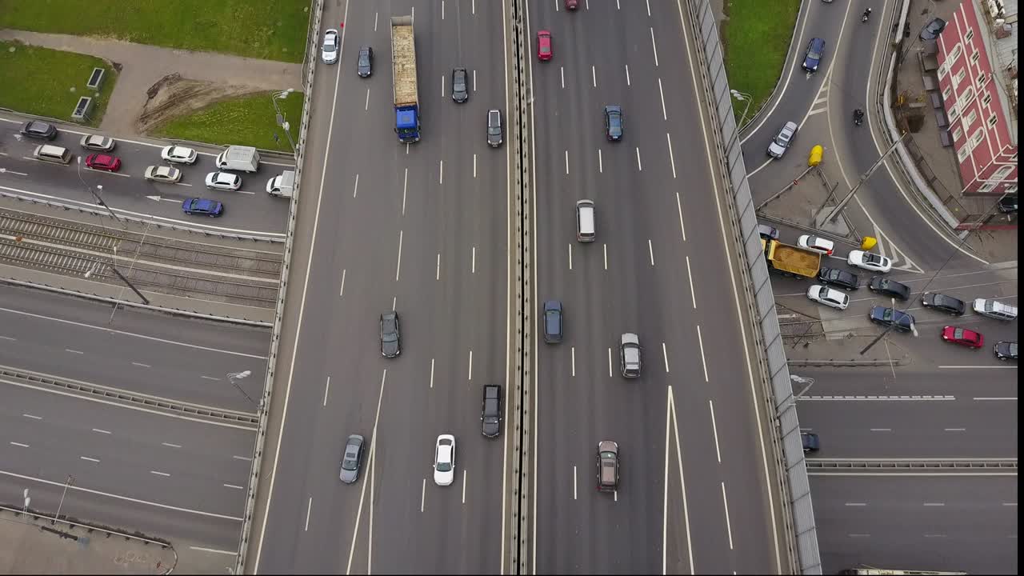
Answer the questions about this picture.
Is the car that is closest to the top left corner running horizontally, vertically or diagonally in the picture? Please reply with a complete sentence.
The car that is closest to the top left corner is oriented horizontally.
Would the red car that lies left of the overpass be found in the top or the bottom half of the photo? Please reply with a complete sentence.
The red car that lies left of the overpass is in the top half of the image.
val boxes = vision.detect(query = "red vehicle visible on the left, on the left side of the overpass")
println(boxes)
[83,152,124,173]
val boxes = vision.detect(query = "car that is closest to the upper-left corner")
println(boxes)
[19,119,59,140]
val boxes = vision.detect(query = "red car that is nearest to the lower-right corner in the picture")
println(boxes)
[940,324,986,348]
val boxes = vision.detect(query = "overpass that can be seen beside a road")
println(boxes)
[249,0,804,576]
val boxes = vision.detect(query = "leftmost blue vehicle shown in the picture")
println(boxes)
[181,196,225,218]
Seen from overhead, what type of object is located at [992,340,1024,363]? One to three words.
car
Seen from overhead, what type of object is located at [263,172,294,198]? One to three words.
vehicle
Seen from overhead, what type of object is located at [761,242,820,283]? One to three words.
truck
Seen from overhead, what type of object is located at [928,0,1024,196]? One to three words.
building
